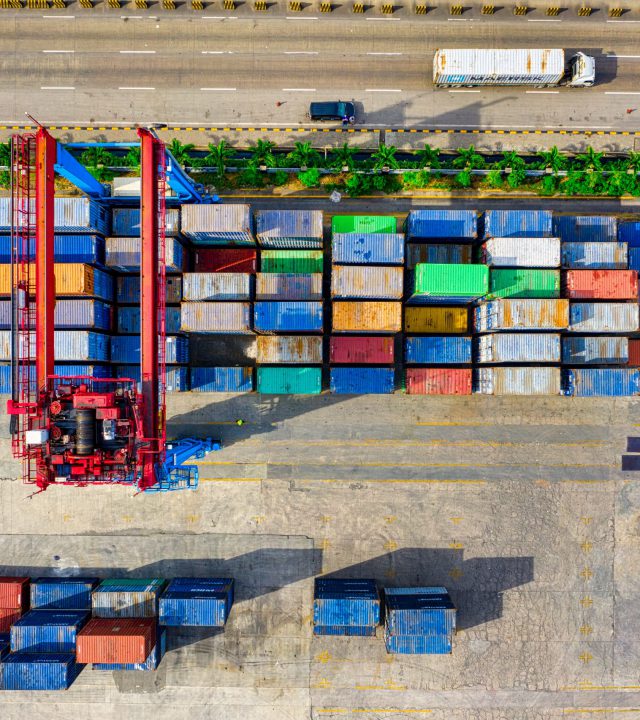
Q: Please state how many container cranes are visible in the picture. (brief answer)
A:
1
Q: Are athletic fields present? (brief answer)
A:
No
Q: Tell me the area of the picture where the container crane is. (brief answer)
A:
left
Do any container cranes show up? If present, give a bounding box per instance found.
[8,112,224,502]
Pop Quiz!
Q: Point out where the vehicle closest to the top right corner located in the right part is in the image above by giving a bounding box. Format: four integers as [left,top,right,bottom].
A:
[532,53,590,88]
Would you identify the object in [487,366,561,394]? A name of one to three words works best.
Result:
shipping container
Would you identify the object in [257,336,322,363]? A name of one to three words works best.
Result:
shipping container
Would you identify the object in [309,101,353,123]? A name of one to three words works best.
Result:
vehicle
